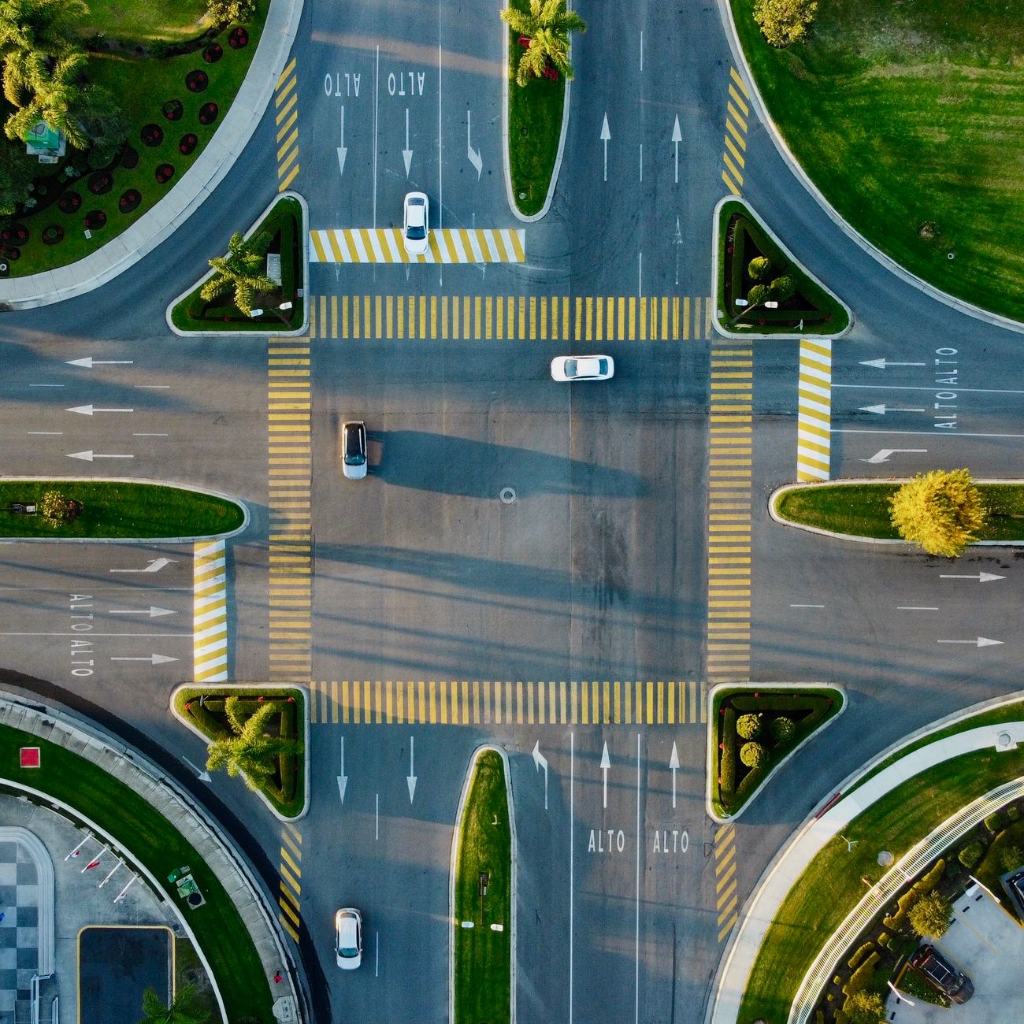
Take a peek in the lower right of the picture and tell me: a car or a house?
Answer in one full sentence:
What appears in the lower right of the picture is a car.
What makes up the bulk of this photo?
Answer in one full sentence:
What you mostly see from above here is paved ground.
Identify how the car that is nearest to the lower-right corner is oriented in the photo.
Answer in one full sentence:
The car that is nearest to the lower-right corner has been laid out at an angle relative to the frame.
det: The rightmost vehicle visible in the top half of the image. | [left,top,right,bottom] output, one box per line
[551,354,613,383]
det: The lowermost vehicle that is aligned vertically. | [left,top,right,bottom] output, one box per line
[334,905,362,966]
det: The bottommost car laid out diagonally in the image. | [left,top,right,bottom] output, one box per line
[910,939,968,1003]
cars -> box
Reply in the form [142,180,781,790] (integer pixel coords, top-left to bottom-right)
[910,939,968,1003]
[402,192,430,256]
[551,354,613,383]
[334,905,362,966]
[341,422,368,478]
